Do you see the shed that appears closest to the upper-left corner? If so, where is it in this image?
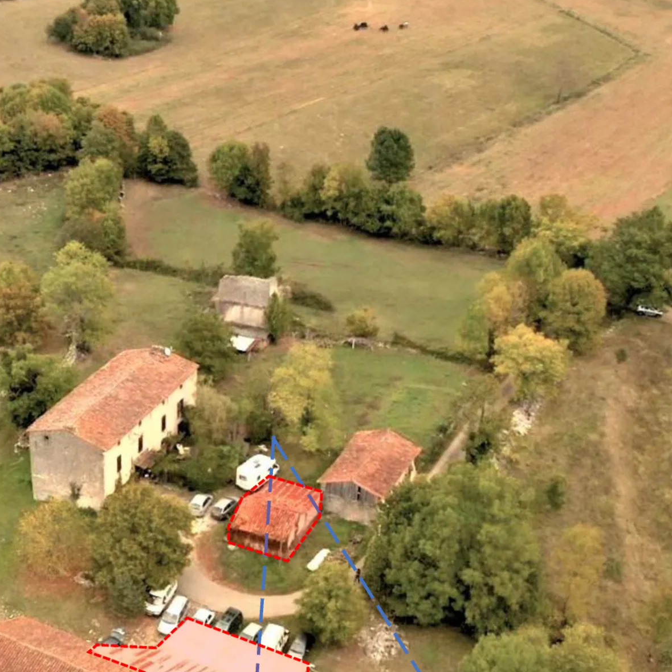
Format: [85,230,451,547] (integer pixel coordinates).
[219,275,277,337]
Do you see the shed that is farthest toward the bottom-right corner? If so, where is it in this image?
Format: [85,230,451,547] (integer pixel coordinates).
[316,427,420,526]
